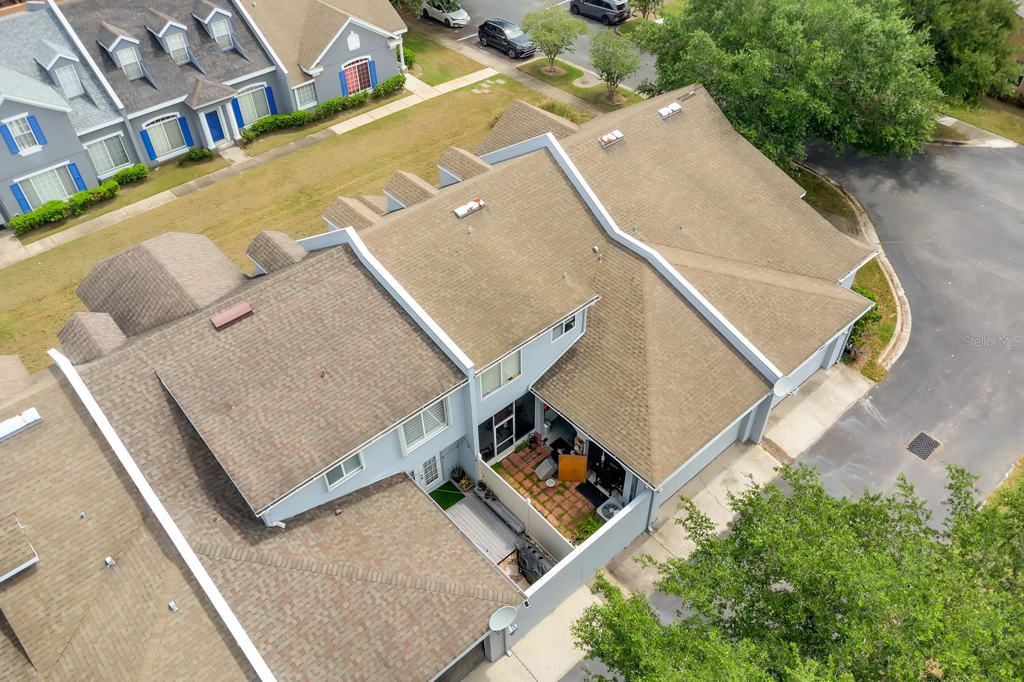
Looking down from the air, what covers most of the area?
buildings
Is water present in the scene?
No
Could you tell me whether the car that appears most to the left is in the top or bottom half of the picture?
top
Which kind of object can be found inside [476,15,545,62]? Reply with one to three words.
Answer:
car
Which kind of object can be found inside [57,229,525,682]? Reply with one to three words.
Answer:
house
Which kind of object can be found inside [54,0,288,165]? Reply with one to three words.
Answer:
house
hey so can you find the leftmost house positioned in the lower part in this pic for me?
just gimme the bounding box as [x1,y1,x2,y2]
[0,353,259,682]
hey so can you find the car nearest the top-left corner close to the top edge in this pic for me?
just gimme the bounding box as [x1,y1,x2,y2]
[418,0,473,28]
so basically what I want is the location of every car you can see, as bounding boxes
[418,0,473,28]
[568,0,637,27]
[476,15,545,62]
